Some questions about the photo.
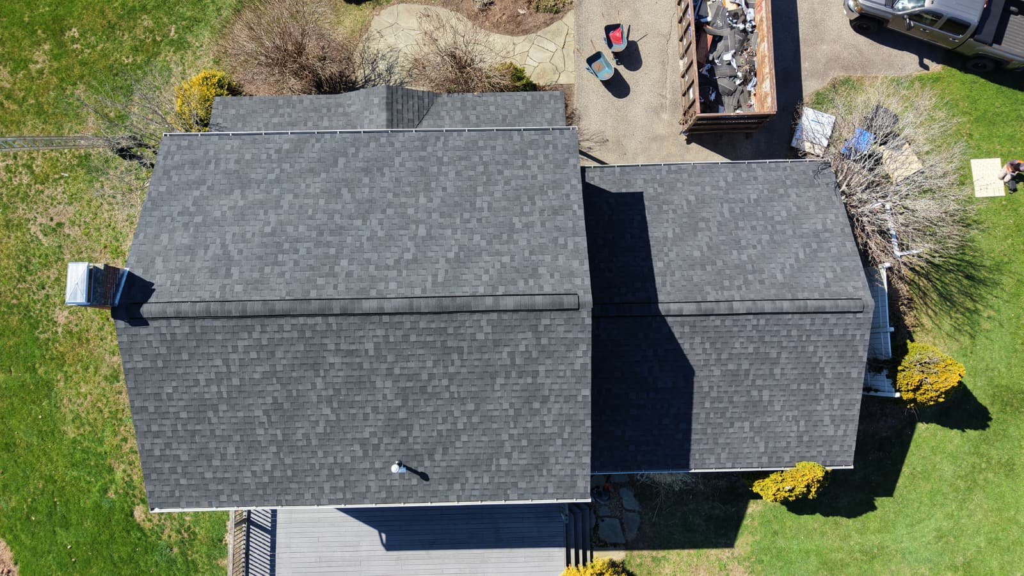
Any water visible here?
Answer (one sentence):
No, water can't be seen anywhere here.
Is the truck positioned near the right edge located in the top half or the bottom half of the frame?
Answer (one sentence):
The top half of the photo is where the truck positioned near the right edge is.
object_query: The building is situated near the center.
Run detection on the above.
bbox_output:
[64,83,874,517]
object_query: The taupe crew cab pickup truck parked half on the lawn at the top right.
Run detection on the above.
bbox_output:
[836,0,1024,77]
